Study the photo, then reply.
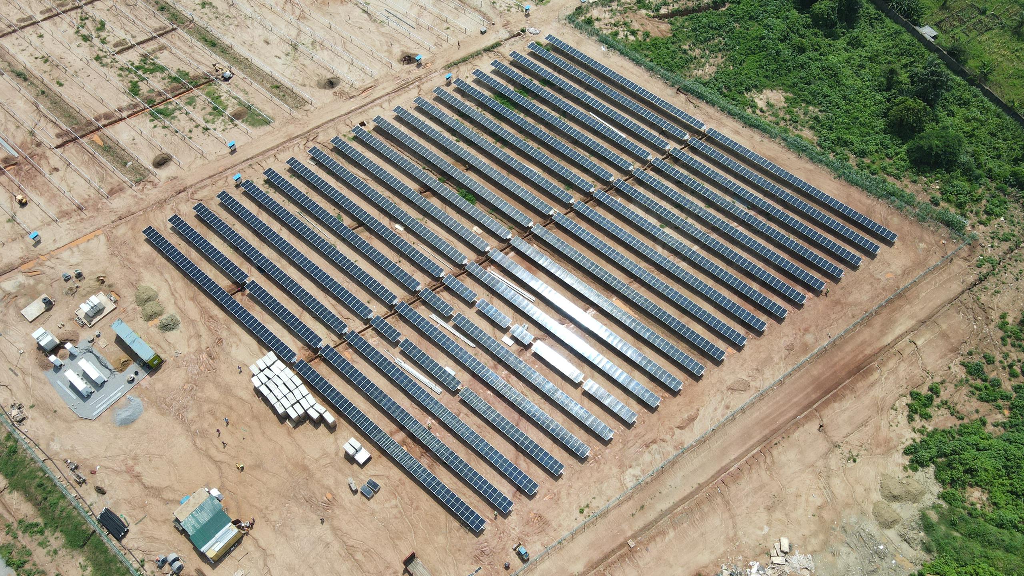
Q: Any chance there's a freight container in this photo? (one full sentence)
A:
Yes, there's a freight container down there.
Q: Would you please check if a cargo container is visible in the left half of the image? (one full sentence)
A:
Yes, a cargo container can be seen in the left half of the image.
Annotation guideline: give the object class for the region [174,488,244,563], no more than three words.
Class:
shed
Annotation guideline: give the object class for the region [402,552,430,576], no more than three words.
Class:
vehicle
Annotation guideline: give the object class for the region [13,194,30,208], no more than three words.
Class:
work vehicle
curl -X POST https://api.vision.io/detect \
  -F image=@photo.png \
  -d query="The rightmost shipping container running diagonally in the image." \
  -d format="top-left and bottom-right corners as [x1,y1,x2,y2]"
[111,319,162,367]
